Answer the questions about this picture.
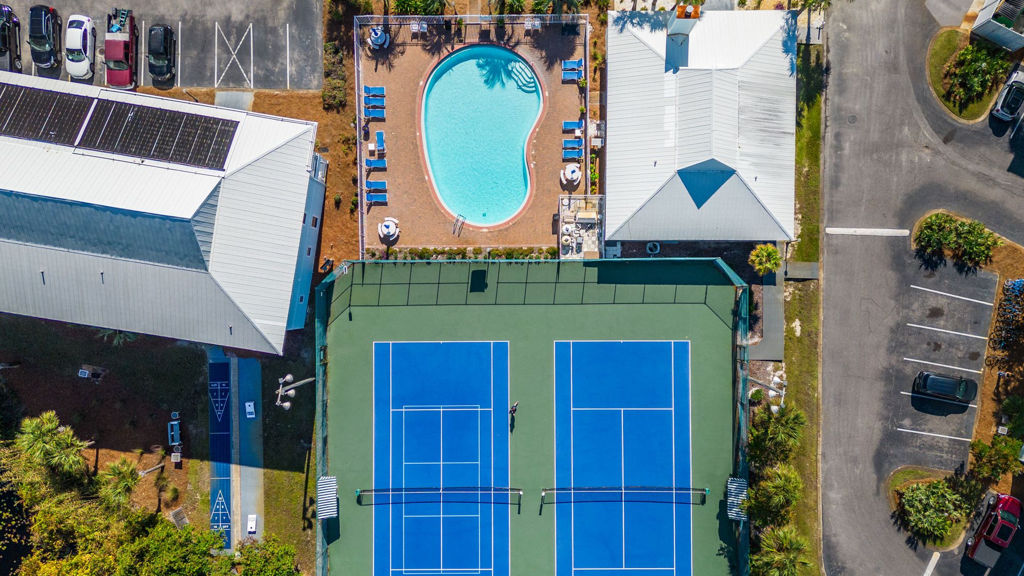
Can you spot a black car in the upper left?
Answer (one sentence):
Yes, you'll find a black car in the upper left.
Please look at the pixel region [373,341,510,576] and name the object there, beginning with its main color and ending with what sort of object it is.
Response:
blue tennis court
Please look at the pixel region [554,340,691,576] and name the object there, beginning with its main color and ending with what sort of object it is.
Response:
blue tennis court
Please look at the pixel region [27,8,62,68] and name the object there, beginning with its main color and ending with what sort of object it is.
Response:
black car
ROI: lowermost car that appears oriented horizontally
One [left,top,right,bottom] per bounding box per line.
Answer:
[916,370,980,403]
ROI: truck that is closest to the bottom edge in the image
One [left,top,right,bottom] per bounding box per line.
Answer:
[971,491,1024,570]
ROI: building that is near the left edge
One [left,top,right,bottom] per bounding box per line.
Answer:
[0,70,337,357]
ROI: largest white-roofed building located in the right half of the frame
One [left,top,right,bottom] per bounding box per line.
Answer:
[604,3,798,241]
